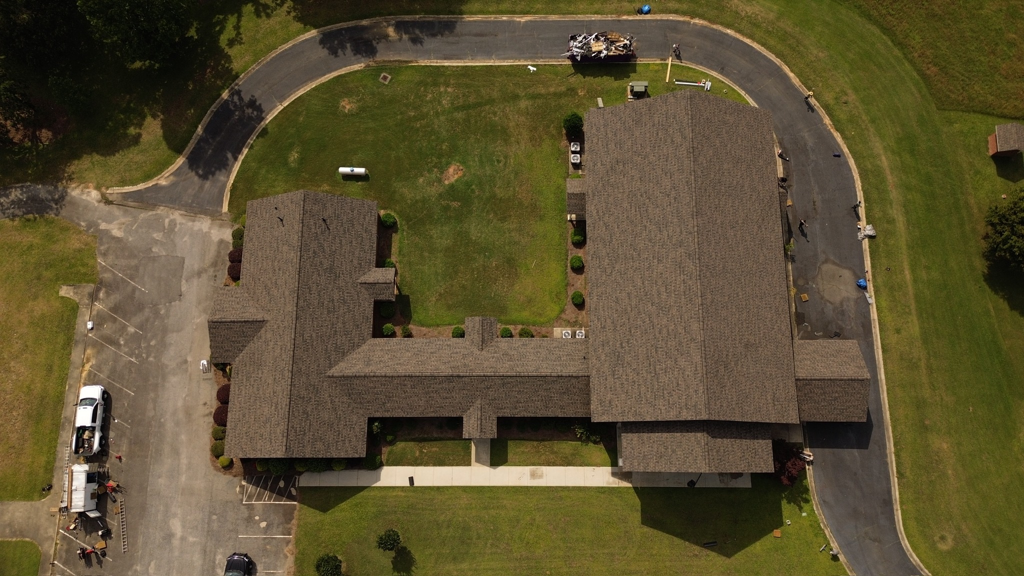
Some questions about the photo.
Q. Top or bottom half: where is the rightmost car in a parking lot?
bottom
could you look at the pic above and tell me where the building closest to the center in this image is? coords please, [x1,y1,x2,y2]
[205,85,871,472]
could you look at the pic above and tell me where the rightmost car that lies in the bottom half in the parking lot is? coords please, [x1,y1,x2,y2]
[218,552,250,576]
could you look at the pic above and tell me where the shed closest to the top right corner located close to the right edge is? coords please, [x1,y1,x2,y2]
[984,119,1024,159]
